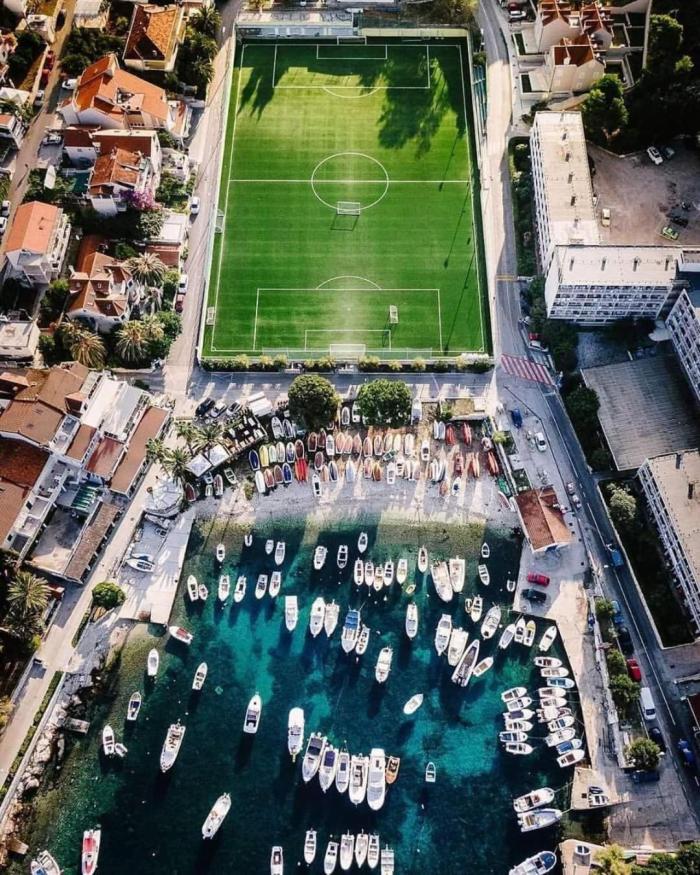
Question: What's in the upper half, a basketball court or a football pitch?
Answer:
football pitch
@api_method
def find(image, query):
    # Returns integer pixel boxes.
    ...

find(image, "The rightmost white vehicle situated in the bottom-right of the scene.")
[640,685,659,719]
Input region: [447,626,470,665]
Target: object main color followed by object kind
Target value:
white boat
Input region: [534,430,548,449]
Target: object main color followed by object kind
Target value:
white vehicle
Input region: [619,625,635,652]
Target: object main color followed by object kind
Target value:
black car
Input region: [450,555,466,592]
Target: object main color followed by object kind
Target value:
white boat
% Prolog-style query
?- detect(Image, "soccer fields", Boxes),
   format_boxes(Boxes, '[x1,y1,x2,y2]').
[202,41,493,355]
